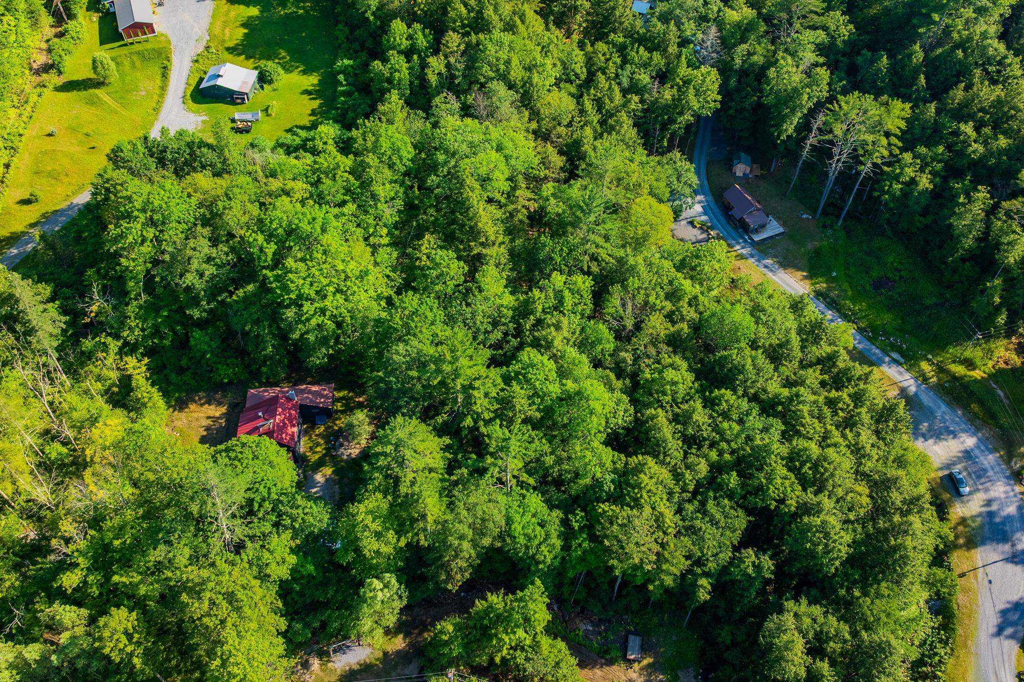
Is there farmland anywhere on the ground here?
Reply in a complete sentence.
No, there's no farmland in this view.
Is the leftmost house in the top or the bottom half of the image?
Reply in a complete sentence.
The leftmost house is in the top half of the image.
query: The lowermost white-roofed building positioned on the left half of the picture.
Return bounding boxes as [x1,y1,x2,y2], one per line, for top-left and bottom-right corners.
[199,61,264,102]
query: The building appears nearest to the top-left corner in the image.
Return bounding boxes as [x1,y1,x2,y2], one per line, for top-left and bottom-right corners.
[96,0,157,39]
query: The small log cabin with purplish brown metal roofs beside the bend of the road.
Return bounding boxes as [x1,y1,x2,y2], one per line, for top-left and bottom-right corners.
[713,184,768,235]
